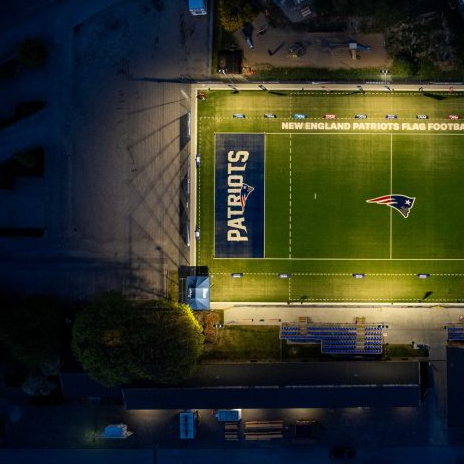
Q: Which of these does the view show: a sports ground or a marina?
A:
sports ground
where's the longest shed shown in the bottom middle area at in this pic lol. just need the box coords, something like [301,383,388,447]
[119,361,427,408]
